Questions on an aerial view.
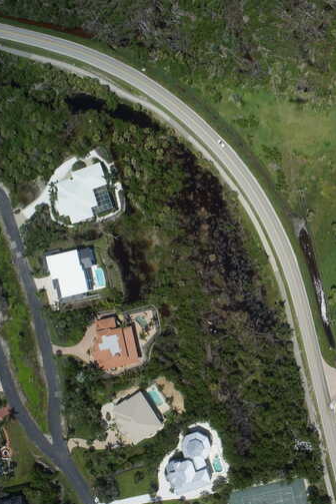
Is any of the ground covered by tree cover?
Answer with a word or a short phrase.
Yes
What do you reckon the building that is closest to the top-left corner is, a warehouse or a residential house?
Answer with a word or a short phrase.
residential house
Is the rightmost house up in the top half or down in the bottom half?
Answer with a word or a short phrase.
bottom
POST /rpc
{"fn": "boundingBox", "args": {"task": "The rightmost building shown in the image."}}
[162,428,213,498]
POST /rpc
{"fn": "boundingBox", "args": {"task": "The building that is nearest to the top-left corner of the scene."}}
[50,161,116,227]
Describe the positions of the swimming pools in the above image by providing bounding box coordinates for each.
[135,315,148,327]
[148,390,165,405]
[213,456,223,473]
[94,266,106,287]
